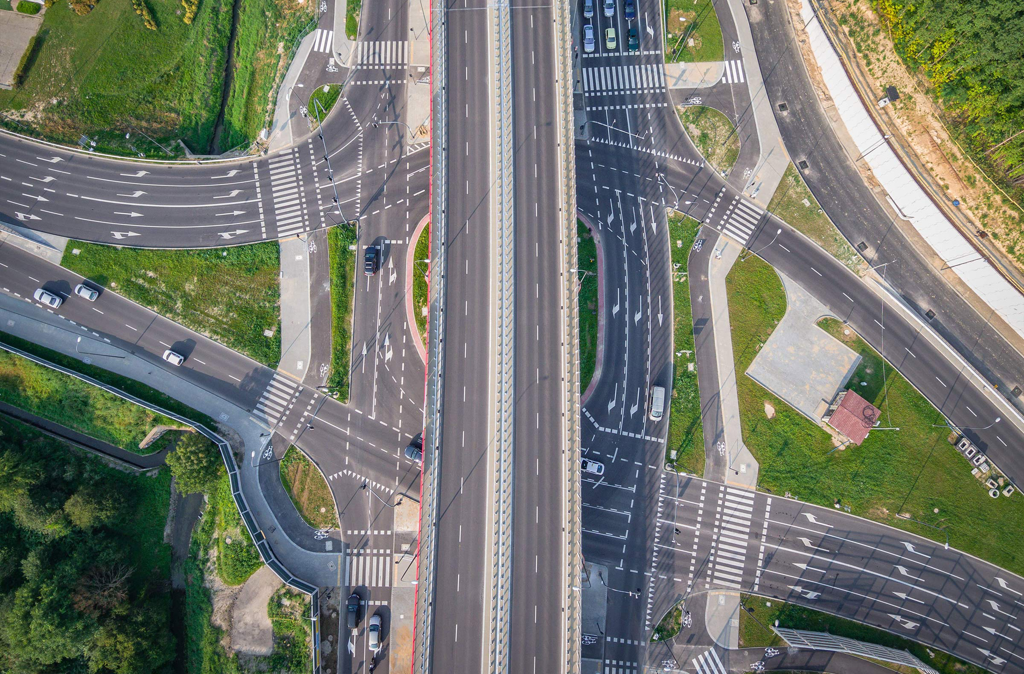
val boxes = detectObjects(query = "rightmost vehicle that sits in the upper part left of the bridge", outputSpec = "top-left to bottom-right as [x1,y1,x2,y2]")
[363,247,378,277]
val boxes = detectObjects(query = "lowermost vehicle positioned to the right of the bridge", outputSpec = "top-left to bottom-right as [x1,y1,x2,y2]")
[582,458,605,475]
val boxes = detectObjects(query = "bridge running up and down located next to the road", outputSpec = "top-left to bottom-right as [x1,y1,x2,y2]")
[411,0,583,674]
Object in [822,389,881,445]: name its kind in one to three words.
shed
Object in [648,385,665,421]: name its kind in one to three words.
vehicle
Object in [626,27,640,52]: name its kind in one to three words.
car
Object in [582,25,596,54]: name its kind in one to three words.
car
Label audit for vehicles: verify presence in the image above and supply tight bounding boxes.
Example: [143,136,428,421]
[405,445,422,462]
[75,285,100,301]
[363,247,378,277]
[582,458,605,475]
[582,0,595,20]
[345,593,362,629]
[623,0,636,22]
[163,350,186,367]
[34,289,64,309]
[626,27,640,52]
[367,614,383,650]
[604,27,618,50]
[603,0,616,18]
[648,385,665,421]
[582,25,596,54]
